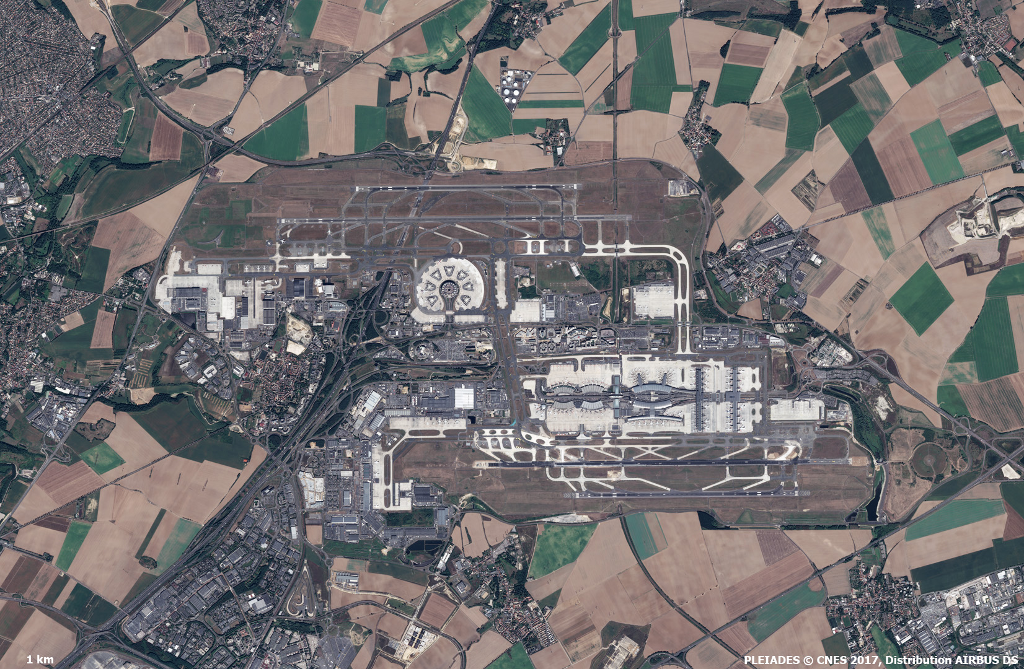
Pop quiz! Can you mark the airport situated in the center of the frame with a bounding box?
[152,160,875,525]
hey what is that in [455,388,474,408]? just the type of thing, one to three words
building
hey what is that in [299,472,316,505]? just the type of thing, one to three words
building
